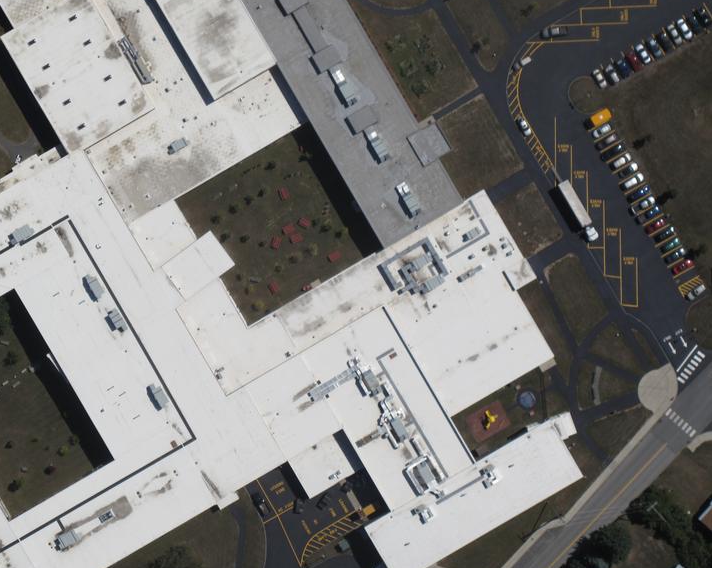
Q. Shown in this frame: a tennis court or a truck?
truck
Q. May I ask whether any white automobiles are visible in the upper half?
Yes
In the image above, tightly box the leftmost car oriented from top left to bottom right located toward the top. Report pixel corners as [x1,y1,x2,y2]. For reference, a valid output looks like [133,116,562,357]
[517,116,533,137]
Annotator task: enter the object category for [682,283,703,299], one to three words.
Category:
car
